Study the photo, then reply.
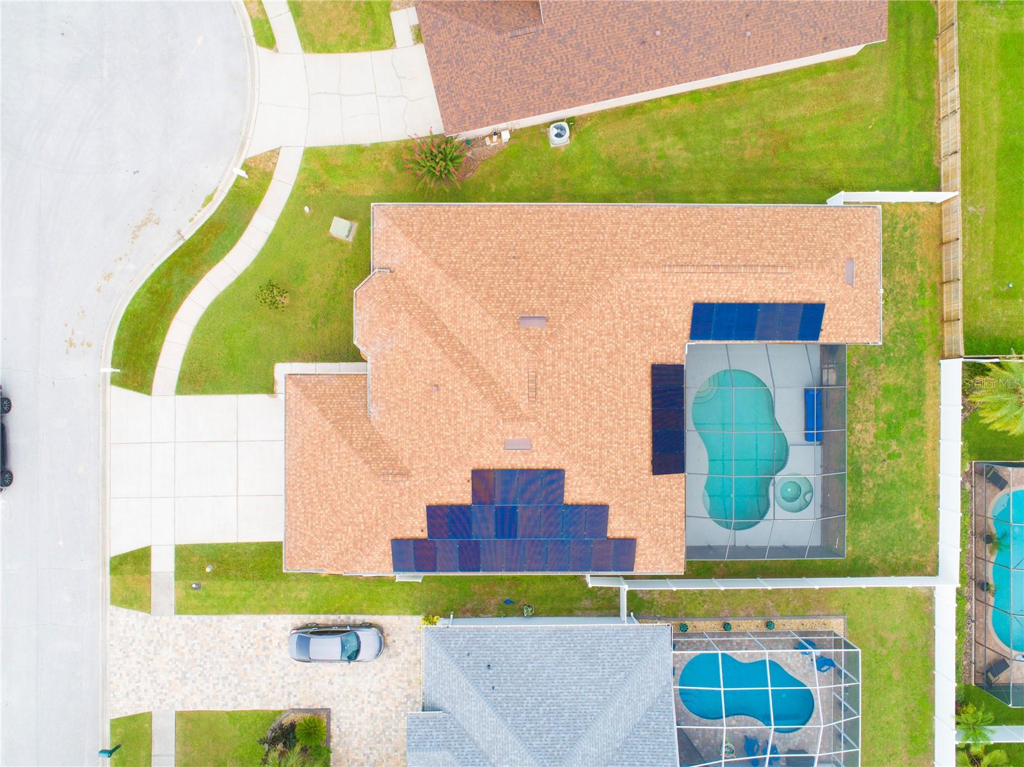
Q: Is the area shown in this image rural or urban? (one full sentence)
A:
It looks urban.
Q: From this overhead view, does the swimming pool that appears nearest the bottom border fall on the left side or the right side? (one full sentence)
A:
The swimming pool that appears nearest the bottom border appears in the right half of the scene.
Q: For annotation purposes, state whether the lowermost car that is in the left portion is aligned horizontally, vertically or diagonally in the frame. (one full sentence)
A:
From this overhead view, the lowermost car that is in the left portion appears to run horizontally.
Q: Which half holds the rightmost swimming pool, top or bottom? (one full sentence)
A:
The bottom half of the photo is where the rightmost swimming pool is.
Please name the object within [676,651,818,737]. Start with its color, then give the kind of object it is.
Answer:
blue swimming pool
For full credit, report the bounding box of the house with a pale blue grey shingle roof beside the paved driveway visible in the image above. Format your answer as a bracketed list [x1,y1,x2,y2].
[405,611,680,767]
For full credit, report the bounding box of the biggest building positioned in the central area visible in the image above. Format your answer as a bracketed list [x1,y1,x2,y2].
[282,202,884,576]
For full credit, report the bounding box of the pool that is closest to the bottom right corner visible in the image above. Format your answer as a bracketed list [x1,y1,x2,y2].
[987,483,1024,656]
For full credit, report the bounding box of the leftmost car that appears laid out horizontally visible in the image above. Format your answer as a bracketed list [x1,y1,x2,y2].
[288,624,384,669]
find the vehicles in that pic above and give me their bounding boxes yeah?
[288,624,384,669]
[0,387,12,499]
